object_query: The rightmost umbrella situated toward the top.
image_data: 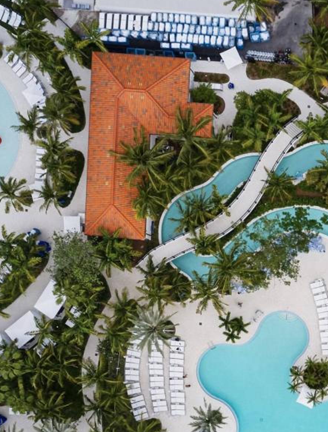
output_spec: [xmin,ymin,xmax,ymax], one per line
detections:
[218,45,245,72]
